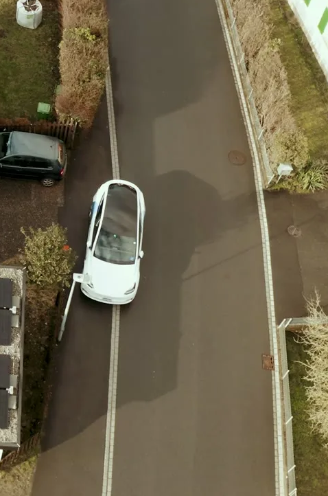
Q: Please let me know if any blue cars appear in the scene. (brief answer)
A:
No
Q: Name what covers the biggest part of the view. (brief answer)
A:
paved ground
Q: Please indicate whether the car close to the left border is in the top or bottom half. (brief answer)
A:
top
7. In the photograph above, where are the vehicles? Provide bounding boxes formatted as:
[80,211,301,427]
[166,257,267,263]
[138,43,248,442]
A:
[79,181,146,307]
[0,136,66,190]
